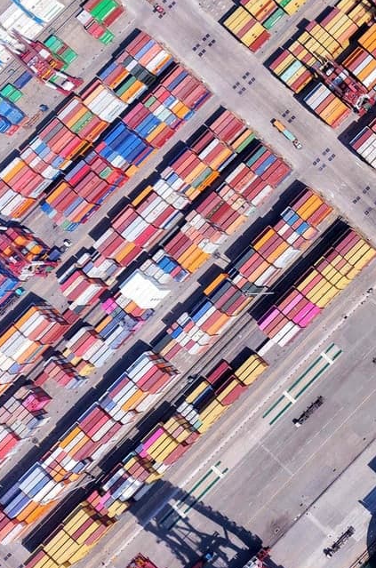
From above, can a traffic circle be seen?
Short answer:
No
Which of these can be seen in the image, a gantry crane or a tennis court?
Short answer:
gantry crane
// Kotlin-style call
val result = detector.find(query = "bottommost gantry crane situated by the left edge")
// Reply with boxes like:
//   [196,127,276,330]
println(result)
[0,212,74,289]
